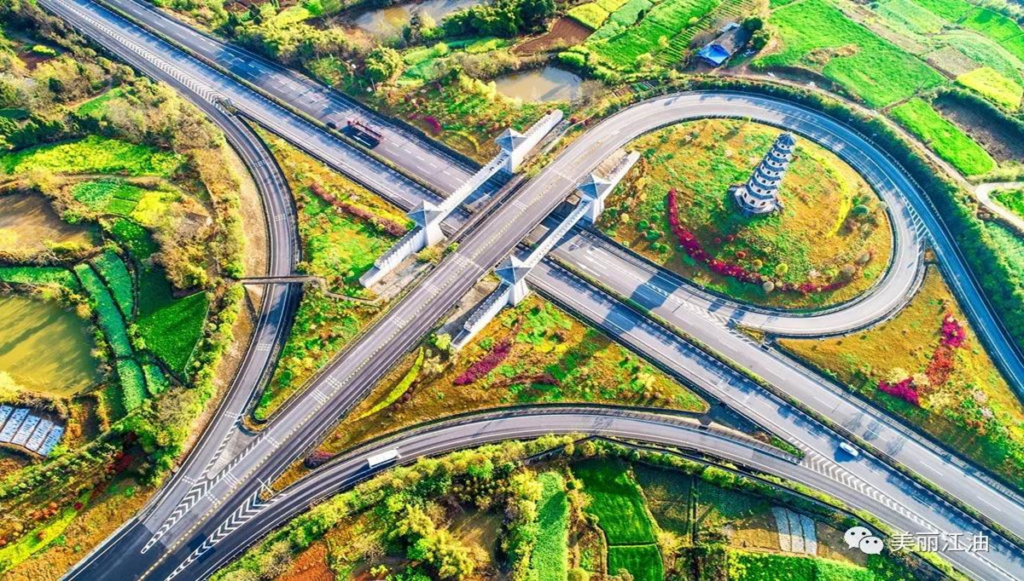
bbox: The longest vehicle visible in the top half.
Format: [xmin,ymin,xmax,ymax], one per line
[347,119,384,142]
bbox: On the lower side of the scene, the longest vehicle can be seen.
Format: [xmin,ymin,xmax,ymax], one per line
[366,449,401,469]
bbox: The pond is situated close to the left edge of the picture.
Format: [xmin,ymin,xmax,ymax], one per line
[0,295,100,395]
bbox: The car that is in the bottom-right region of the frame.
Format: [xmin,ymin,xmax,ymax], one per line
[839,442,858,457]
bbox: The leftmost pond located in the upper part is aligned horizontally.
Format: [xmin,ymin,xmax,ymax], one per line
[359,0,475,30]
